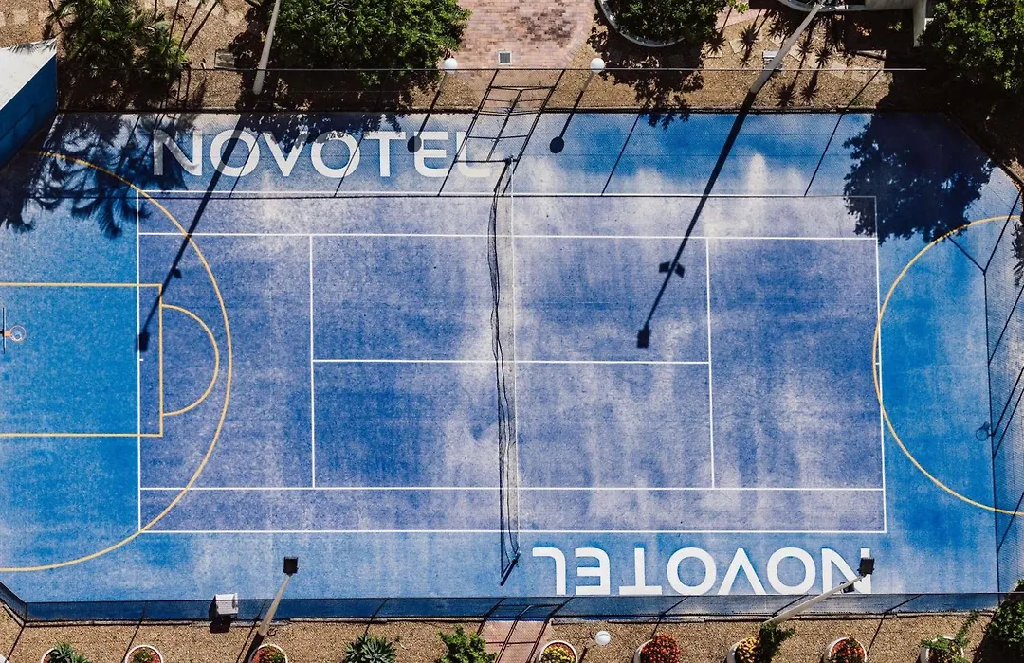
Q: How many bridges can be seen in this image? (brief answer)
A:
0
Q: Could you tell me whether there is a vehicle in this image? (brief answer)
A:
No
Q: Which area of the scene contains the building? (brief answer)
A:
top left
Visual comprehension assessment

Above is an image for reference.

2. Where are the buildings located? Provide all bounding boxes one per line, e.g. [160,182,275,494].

[0,36,61,169]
